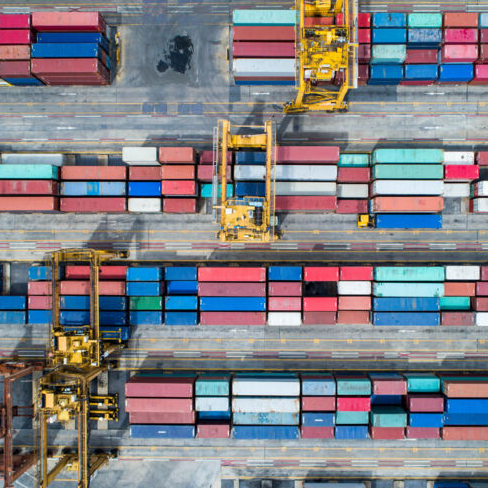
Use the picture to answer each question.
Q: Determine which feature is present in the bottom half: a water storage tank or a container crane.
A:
container crane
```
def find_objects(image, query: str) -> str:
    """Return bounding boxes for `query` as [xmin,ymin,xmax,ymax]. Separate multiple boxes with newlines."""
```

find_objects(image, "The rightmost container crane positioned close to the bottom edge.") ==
[34,361,123,488]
